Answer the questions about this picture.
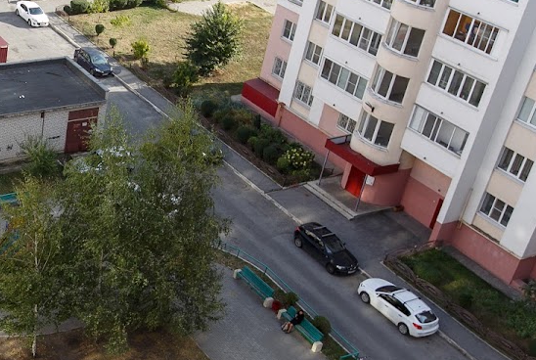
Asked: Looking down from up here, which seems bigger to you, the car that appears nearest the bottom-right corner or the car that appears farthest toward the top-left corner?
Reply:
the car that appears nearest the bottom-right corner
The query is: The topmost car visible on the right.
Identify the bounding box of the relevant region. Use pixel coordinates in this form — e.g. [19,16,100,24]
[290,220,362,281]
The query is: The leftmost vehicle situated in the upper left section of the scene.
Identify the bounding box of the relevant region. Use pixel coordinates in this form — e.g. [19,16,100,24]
[11,2,52,29]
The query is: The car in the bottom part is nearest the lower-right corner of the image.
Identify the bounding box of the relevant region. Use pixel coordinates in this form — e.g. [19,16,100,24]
[356,282,443,344]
